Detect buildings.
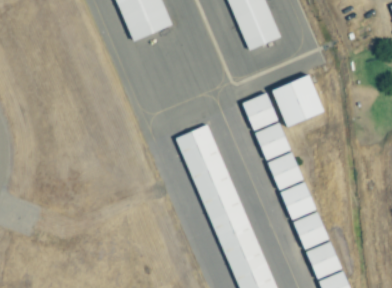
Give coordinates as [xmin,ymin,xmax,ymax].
[307,242,342,279]
[320,272,350,288]
[242,94,278,131]
[294,212,329,250]
[282,182,316,220]
[272,75,324,127]
[256,123,290,160]
[176,124,279,288]
[228,0,282,50]
[116,0,173,41]
[268,153,304,190]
